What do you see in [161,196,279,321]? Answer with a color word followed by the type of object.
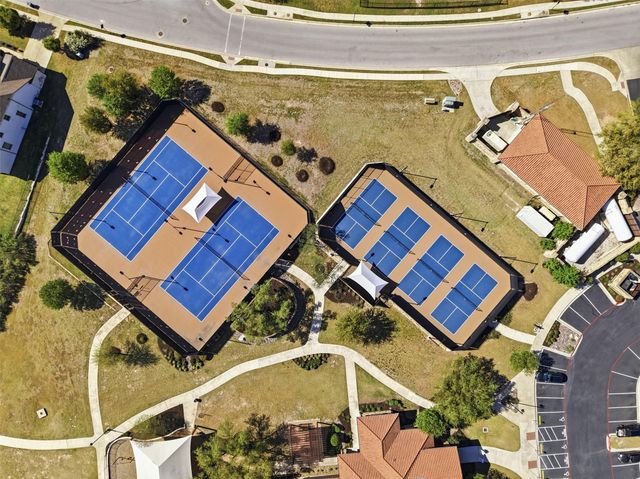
blue tennis court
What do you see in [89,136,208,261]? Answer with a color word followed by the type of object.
blue tennis court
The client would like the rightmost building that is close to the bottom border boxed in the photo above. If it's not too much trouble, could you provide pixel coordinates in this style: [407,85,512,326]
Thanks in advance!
[336,409,465,479]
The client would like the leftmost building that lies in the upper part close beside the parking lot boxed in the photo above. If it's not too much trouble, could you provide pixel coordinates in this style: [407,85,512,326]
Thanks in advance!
[496,113,617,230]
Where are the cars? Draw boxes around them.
[620,424,640,438]
[539,373,565,386]
[621,451,640,466]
